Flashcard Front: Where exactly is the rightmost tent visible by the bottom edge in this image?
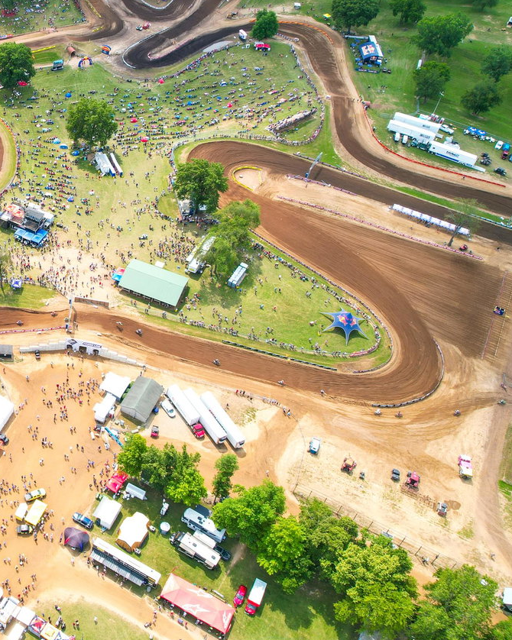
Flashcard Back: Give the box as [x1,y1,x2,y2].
[156,574,235,639]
